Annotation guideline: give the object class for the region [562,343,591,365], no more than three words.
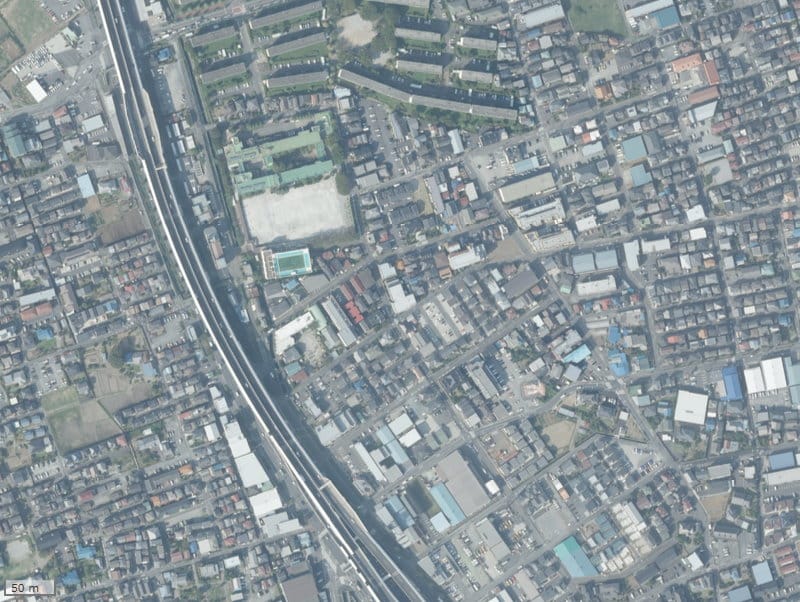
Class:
building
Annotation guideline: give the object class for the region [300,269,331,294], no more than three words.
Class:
building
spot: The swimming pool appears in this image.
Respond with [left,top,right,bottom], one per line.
[273,249,312,278]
